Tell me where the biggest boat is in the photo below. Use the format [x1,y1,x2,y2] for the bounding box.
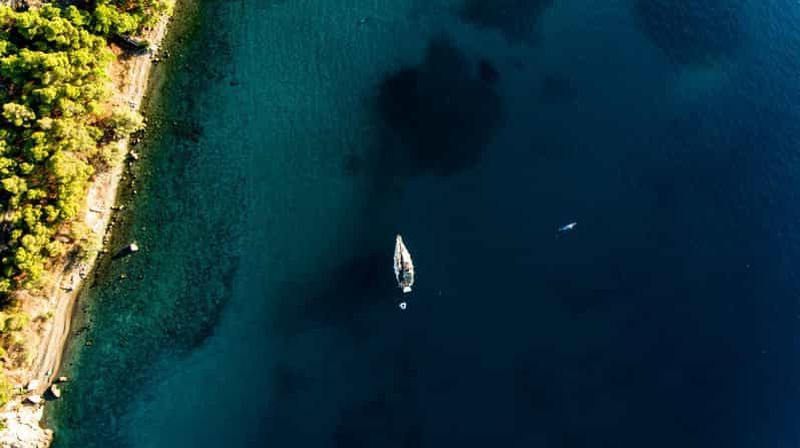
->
[393,234,414,293]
